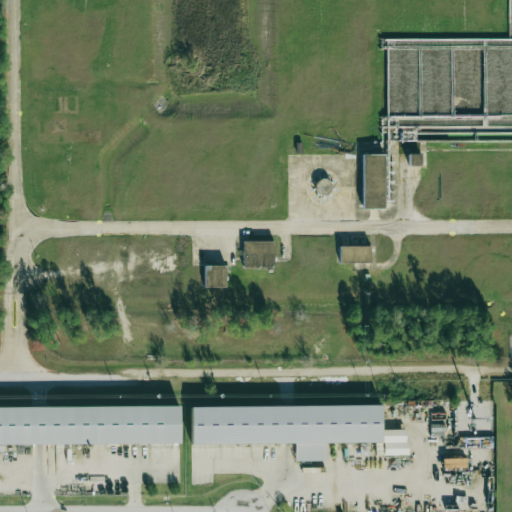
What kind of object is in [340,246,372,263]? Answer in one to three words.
building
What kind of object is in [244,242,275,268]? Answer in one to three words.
building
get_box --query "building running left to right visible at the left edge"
[0,406,181,444]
